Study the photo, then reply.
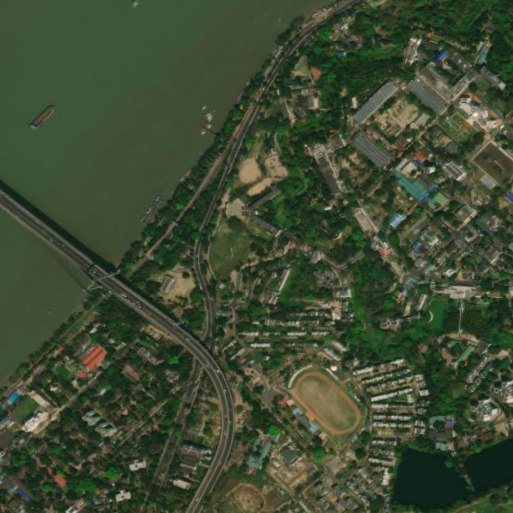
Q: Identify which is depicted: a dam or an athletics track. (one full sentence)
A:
Looking from above, you can make out an athletics track.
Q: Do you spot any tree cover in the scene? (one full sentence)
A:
Yes, some tree cover is visible.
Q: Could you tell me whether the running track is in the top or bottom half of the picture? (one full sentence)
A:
The running track is in the bottom half of the image.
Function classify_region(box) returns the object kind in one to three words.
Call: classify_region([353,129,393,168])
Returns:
building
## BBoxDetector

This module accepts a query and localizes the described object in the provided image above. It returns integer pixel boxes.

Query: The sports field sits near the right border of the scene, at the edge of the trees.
[472,140,513,185]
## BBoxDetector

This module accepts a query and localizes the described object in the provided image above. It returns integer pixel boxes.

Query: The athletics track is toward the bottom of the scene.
[290,365,363,437]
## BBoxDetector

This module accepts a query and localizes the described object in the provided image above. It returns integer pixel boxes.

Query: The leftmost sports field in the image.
[232,483,268,513]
